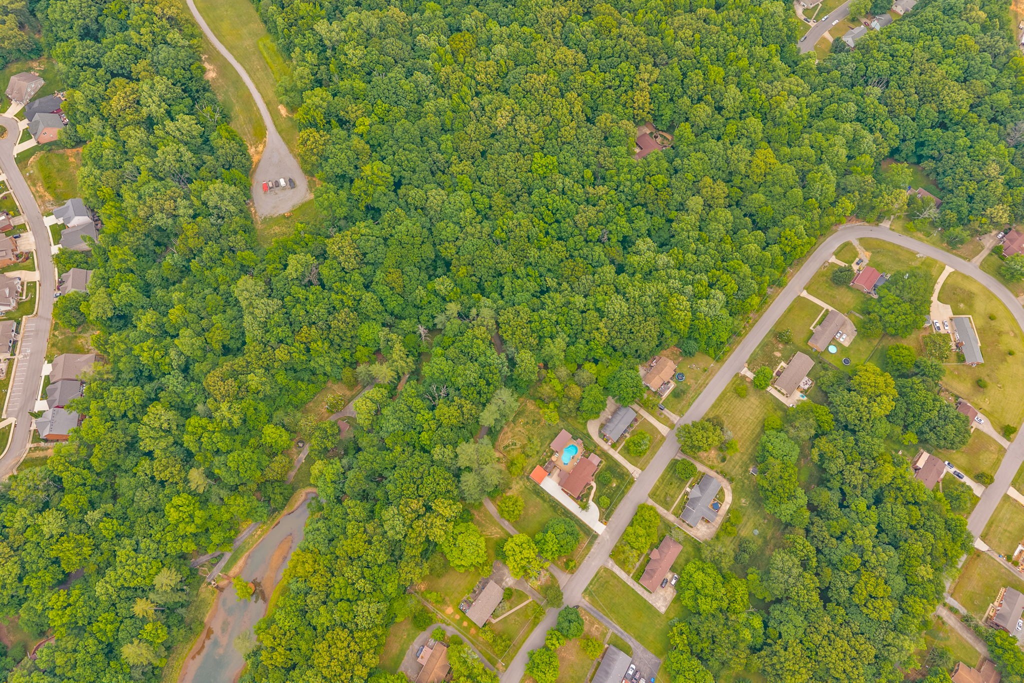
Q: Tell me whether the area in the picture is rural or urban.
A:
rural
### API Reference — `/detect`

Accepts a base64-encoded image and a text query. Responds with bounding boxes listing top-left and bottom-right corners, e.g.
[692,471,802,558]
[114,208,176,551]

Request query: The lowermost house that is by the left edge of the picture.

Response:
[35,409,80,436]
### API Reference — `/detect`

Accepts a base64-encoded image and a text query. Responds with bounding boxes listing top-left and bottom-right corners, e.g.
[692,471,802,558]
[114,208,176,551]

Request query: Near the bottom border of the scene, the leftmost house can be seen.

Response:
[414,640,452,683]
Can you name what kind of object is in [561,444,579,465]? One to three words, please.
swimming pool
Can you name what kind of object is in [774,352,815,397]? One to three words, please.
house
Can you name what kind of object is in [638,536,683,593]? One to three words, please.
house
